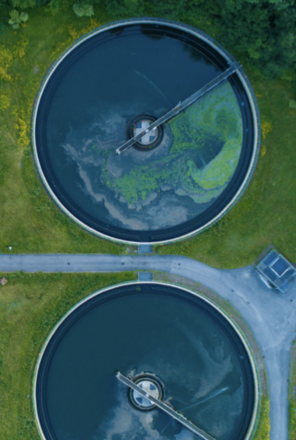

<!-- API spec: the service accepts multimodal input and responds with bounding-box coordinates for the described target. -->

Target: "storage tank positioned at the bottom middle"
[32,278,260,440]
